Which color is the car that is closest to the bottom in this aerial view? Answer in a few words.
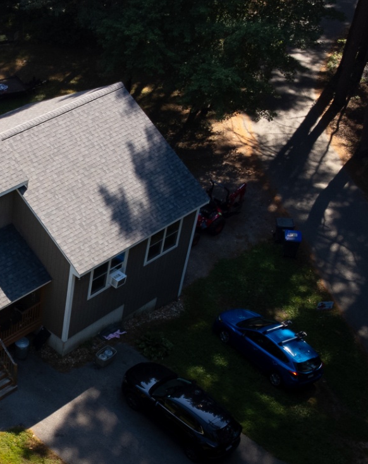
black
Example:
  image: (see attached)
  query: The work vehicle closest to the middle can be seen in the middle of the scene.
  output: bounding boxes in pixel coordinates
[183,176,231,265]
